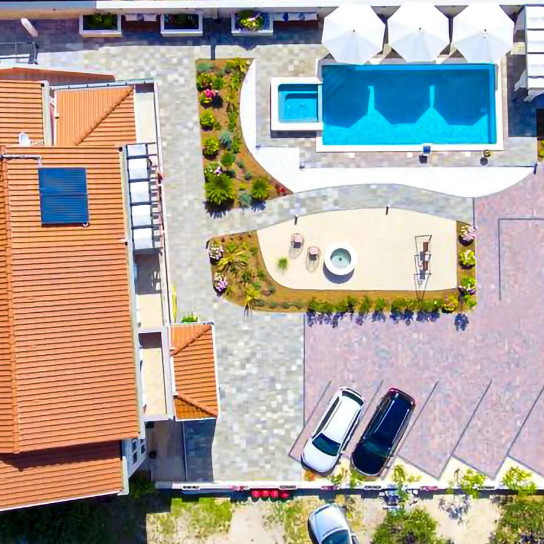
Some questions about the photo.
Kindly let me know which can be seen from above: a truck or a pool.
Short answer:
pool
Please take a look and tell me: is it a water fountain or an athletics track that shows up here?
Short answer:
water fountain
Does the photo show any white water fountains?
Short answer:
Yes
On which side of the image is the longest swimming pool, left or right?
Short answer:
right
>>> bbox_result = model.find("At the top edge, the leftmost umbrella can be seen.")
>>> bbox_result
[322,6,384,67]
